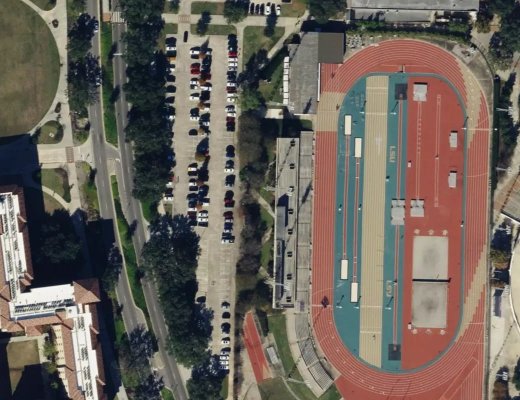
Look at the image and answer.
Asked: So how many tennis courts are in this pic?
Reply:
0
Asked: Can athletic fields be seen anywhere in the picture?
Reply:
Yes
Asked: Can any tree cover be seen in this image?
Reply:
Yes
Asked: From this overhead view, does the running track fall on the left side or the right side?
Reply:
right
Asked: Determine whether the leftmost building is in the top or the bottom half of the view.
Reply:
bottom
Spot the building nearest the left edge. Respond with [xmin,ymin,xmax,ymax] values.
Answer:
[0,185,108,400]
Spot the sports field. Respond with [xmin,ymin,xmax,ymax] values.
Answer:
[334,64,466,371]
